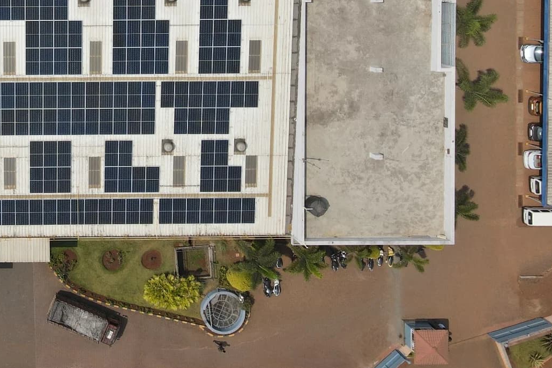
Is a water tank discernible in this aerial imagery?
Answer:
Yes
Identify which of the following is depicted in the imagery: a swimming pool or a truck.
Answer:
truck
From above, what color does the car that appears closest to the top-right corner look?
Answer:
white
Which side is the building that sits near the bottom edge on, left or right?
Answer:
right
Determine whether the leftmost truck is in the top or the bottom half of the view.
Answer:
bottom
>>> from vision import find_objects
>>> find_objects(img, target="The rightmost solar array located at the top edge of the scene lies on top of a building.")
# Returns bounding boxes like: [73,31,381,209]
[197,0,242,73]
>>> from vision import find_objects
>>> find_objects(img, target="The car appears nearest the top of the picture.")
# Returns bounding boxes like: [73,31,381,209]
[519,42,543,65]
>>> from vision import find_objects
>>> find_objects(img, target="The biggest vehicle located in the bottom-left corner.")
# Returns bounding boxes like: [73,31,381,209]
[48,292,124,348]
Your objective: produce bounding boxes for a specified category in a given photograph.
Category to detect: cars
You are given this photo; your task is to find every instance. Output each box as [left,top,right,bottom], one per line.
[527,176,541,196]
[527,121,542,142]
[526,95,542,115]
[522,149,541,170]
[519,42,543,65]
